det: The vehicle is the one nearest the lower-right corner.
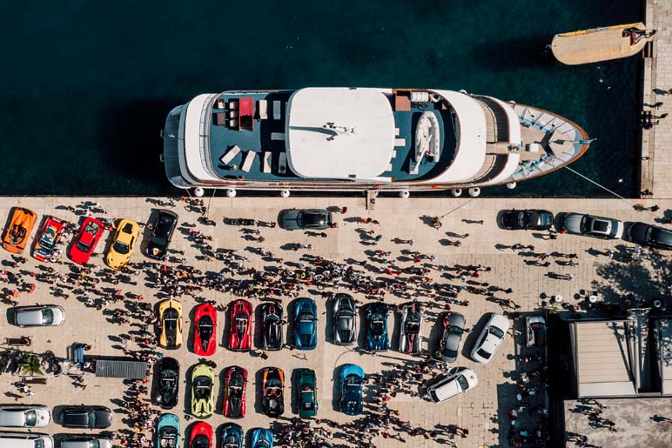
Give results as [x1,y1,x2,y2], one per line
[524,310,550,352]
